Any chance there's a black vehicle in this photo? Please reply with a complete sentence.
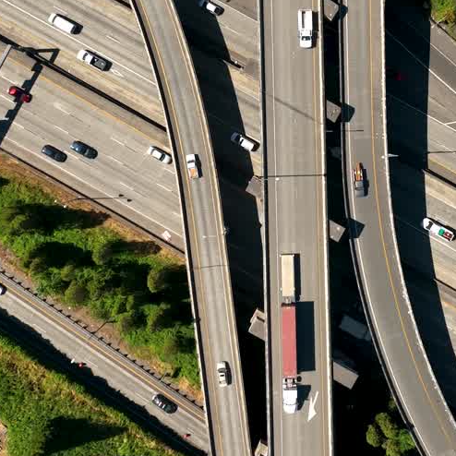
Yes, a black vehicle is visible in the scene.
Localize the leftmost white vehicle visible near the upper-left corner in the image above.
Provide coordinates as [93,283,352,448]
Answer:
[50,13,80,35]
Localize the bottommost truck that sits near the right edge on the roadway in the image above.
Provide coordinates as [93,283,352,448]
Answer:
[423,217,455,241]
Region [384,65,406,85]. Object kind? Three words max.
car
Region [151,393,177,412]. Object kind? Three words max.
car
